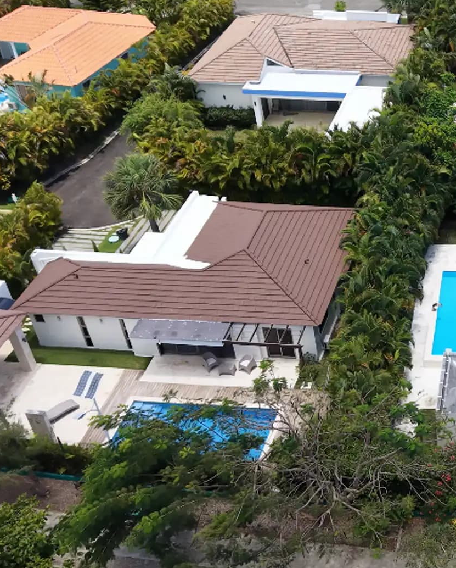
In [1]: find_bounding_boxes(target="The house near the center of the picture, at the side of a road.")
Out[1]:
[10,187,356,386]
